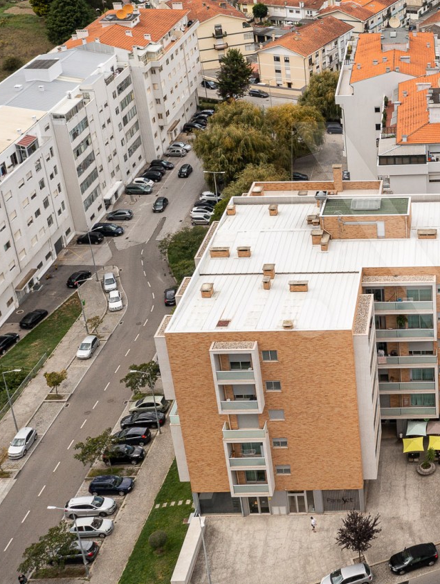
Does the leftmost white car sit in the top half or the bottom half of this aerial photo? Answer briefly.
bottom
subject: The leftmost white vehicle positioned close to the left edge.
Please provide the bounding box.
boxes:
[8,428,38,461]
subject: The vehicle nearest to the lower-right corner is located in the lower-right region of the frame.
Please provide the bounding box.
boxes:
[388,543,440,576]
